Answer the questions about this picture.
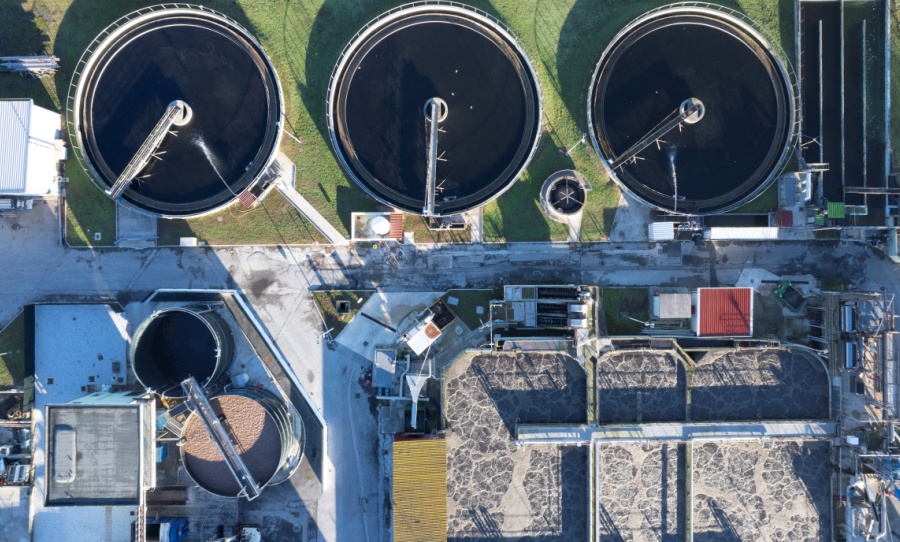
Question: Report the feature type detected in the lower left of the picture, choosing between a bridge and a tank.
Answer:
tank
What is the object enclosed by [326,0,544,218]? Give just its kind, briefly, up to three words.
storage tank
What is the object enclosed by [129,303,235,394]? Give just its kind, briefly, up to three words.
storage tank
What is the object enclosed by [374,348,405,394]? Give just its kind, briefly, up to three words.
building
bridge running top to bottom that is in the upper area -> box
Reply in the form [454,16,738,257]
[423,101,449,218]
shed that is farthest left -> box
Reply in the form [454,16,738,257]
[0,97,65,200]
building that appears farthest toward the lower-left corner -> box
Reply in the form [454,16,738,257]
[44,393,171,507]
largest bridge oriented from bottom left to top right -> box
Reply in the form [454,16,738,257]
[103,102,187,200]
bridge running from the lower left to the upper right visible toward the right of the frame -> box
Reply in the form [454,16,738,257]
[604,101,704,172]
